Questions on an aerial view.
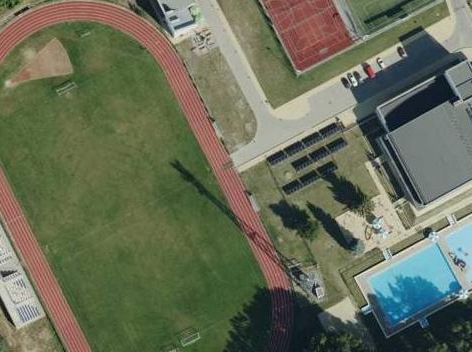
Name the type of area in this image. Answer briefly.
sports ground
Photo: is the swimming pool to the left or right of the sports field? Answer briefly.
to its right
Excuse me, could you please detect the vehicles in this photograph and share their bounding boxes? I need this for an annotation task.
[349,74,358,86]
[398,46,406,57]
[377,58,386,69]
[342,77,350,88]
[365,64,375,77]
[354,70,362,81]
